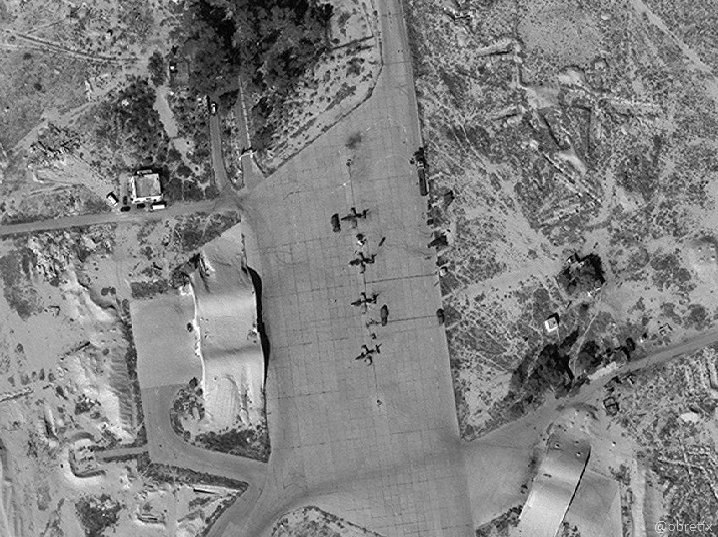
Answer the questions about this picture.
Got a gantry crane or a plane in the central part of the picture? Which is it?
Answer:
plane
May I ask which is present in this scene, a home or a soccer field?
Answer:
home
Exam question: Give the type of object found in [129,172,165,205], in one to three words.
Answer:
house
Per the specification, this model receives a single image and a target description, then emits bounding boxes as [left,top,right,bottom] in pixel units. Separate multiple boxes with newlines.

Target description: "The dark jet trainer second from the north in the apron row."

[350,251,377,272]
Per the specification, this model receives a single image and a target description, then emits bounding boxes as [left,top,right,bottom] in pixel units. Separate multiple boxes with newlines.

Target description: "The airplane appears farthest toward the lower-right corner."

[356,344,381,365]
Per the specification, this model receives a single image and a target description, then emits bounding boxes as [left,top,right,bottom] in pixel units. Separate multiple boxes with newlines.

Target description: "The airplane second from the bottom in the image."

[351,291,378,313]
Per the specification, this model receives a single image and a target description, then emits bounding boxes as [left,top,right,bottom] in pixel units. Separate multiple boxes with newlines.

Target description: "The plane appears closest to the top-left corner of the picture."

[341,207,368,228]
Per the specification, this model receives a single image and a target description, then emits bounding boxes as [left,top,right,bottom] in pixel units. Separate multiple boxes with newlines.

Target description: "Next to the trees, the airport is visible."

[97,0,621,537]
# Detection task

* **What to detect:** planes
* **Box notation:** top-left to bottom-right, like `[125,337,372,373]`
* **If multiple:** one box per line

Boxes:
[356,344,381,365]
[341,207,368,228]
[351,291,378,313]
[350,251,377,272]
